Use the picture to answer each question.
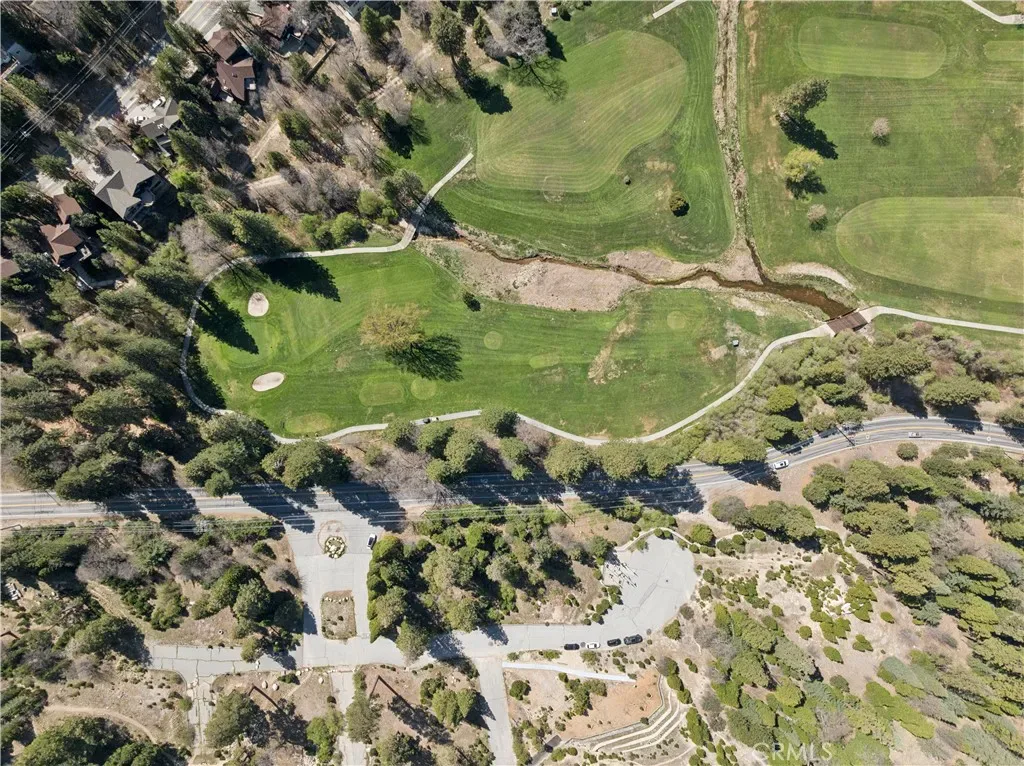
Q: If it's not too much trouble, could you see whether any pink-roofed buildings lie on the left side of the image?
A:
No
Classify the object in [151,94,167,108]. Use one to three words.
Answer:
car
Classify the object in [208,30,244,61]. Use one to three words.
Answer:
house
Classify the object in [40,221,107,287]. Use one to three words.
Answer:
house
